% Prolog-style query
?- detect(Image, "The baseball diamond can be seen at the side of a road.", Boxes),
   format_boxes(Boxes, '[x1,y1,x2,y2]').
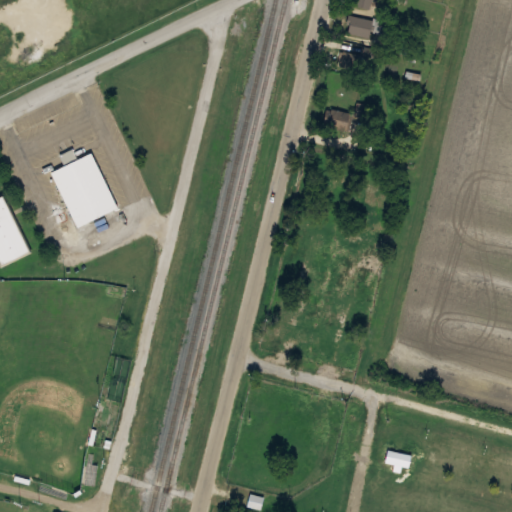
[0,280,126,495]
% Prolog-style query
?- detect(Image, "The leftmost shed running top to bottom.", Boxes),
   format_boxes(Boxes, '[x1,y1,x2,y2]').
[0,196,30,266]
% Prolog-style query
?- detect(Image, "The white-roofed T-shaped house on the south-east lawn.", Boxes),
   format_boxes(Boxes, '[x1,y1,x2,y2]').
[386,450,412,474]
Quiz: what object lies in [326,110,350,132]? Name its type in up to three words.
house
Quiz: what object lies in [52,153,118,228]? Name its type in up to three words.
shed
